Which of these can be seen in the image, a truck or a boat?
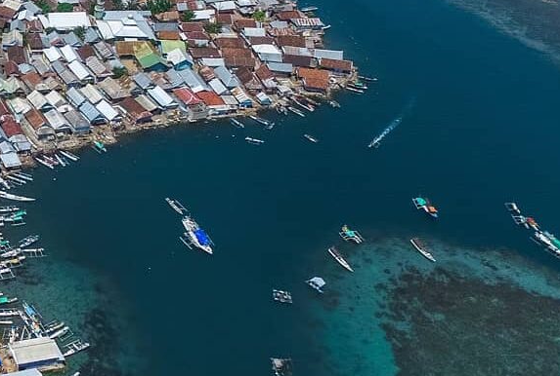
boat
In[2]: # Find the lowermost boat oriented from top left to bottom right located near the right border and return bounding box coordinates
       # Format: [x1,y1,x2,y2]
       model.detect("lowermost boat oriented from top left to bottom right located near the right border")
[530,231,560,262]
